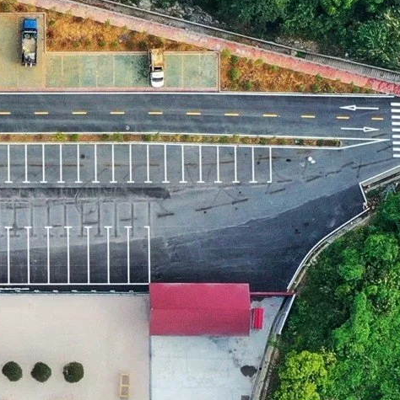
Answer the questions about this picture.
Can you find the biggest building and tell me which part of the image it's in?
bottom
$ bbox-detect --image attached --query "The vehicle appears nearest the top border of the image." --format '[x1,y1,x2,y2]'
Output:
[24,17,40,64]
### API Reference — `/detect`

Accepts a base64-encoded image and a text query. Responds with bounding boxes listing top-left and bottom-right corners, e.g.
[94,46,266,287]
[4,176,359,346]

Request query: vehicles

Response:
[24,17,40,64]
[151,46,167,86]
